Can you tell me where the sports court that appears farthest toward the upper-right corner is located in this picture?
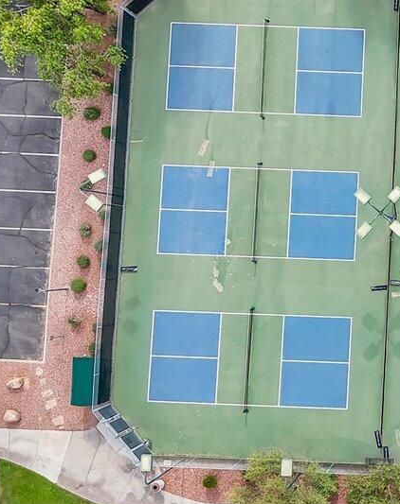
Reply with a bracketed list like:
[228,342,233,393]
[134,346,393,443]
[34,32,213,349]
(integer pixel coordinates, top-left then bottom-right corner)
[166,21,366,117]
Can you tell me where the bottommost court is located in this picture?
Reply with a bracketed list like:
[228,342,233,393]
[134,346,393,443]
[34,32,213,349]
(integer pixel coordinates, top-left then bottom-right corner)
[148,310,352,411]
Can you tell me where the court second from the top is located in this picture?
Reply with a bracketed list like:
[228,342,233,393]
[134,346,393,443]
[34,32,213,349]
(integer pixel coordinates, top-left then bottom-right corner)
[157,164,359,262]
